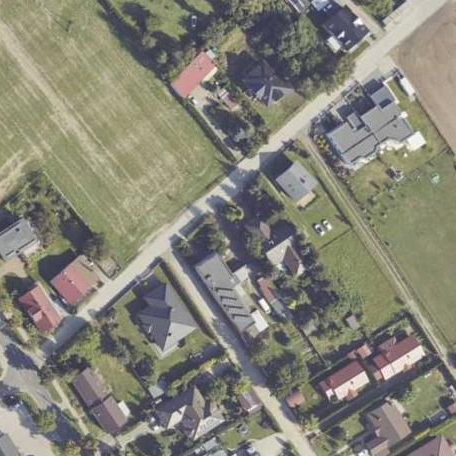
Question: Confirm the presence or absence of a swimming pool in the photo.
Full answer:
No, there is no swimming pool in the image.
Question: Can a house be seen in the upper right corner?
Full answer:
Yes, a house is visible in the upper right corner.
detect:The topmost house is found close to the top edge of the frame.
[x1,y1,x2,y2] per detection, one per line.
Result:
[311,0,371,52]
